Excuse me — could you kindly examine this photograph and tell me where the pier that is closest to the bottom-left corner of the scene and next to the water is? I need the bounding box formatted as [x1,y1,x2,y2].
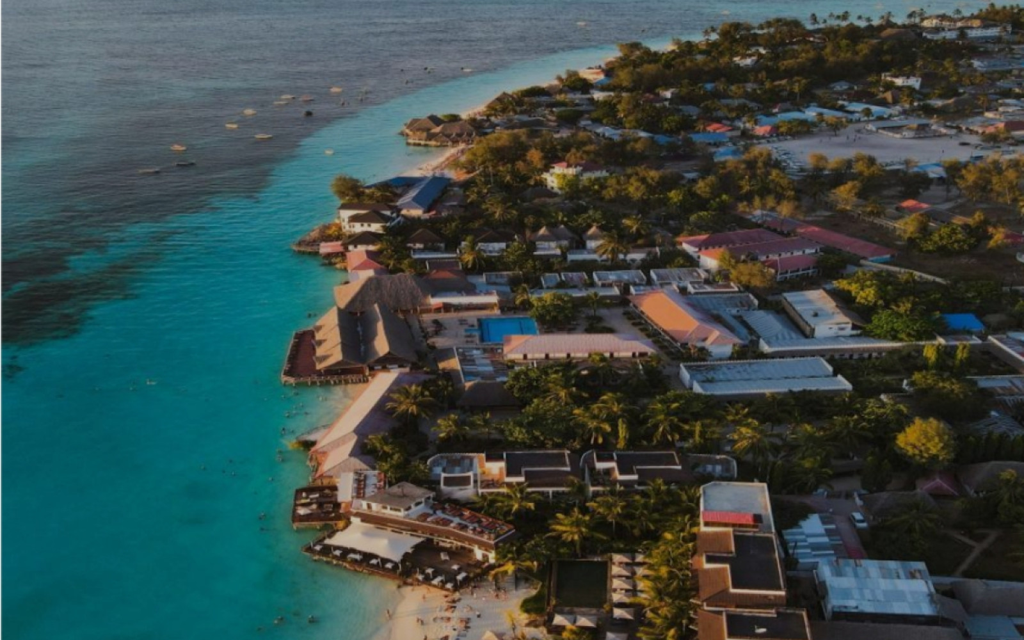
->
[292,489,348,536]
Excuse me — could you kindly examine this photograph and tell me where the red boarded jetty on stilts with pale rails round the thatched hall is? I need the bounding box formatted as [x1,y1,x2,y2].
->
[282,324,371,392]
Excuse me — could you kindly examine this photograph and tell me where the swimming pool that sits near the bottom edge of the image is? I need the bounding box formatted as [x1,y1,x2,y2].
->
[544,555,614,615]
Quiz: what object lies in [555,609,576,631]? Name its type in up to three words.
umbrella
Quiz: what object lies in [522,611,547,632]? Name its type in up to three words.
umbrella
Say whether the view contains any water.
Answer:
Yes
